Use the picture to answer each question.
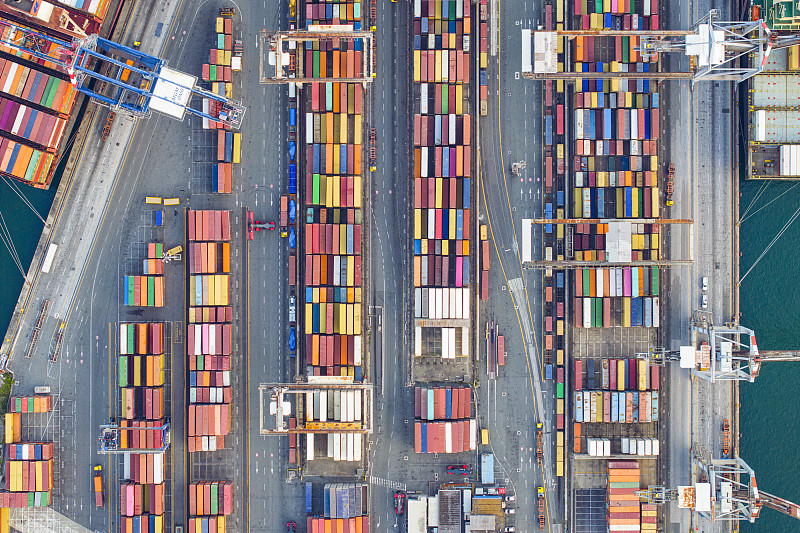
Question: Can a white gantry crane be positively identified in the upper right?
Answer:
Yes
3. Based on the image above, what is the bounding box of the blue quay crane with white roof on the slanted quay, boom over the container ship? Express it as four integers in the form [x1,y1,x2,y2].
[0,15,252,134]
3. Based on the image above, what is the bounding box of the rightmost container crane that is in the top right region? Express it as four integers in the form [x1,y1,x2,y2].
[639,0,800,92]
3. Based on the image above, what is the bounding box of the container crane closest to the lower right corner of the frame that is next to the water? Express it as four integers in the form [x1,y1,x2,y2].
[639,431,800,527]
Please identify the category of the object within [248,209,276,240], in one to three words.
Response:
work vehicle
